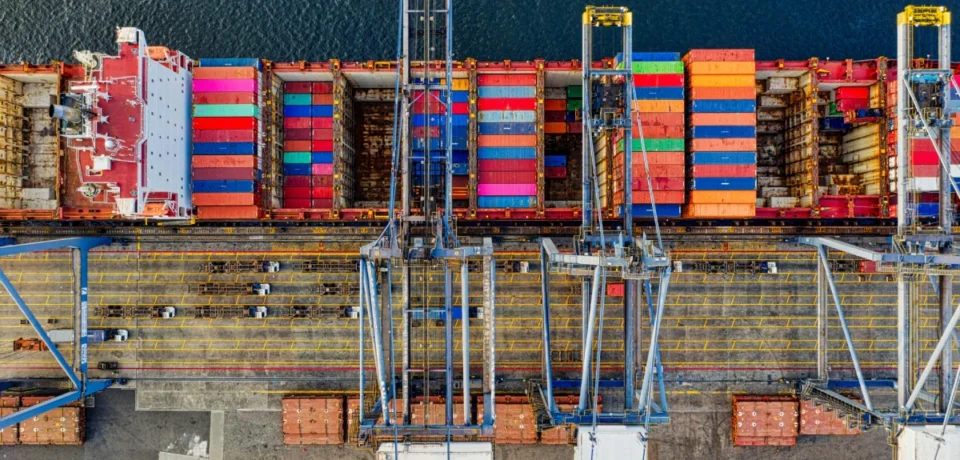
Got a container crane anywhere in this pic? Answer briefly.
Yes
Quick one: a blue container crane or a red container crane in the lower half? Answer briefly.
blue container crane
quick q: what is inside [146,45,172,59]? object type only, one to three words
boat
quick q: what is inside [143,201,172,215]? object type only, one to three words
boat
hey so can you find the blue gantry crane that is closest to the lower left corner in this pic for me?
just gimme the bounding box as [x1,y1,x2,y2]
[0,234,128,433]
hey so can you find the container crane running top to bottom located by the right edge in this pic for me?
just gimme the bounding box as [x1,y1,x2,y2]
[782,6,960,460]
